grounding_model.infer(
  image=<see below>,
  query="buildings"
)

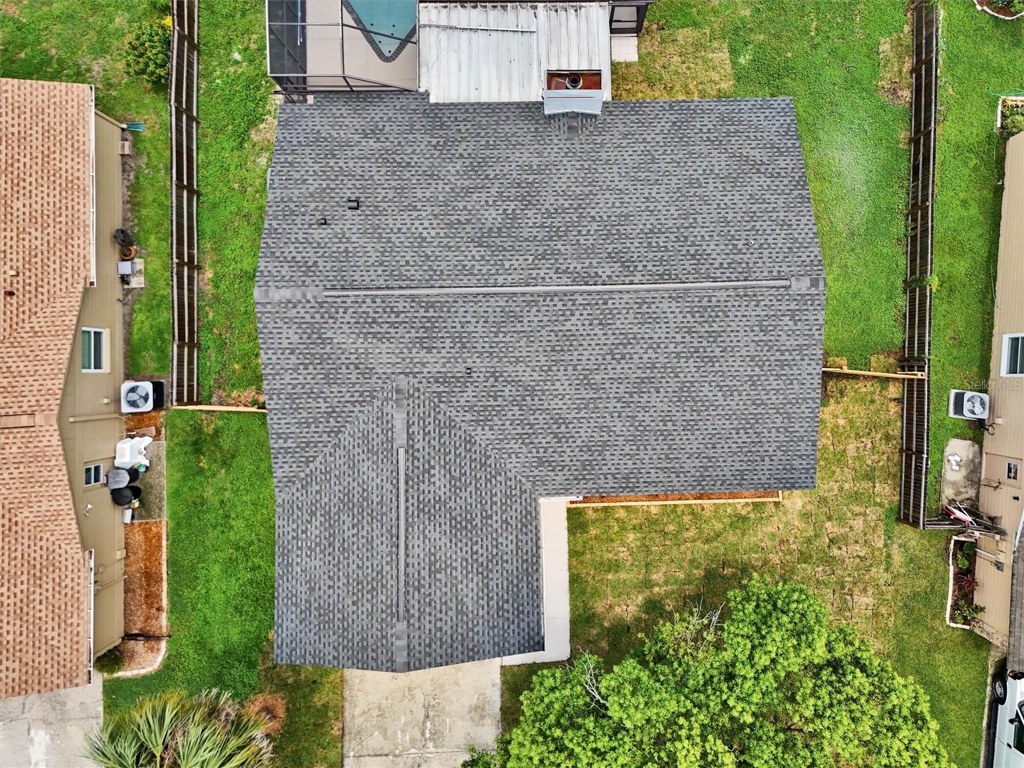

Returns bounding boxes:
[0,73,130,696]
[254,0,825,672]
[972,133,1024,675]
